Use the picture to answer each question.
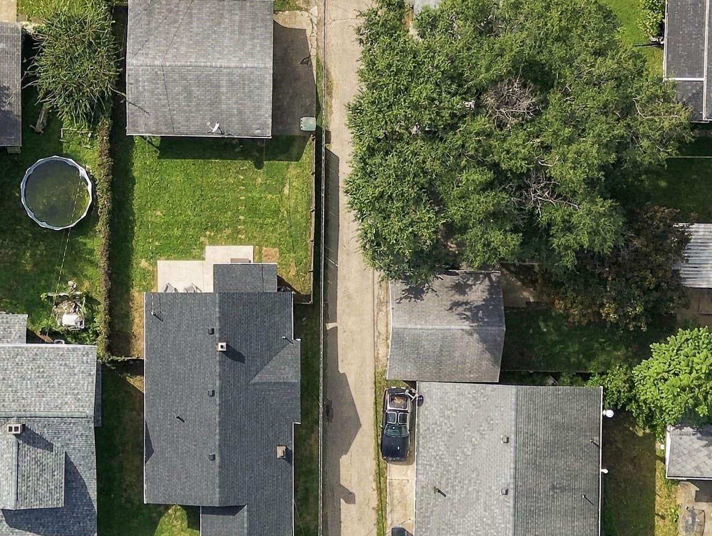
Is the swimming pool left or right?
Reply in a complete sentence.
The swimming pool is on the left side of the image.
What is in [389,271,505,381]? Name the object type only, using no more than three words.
building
